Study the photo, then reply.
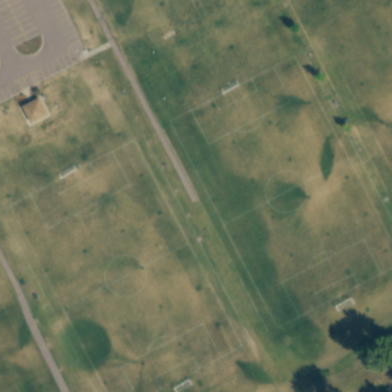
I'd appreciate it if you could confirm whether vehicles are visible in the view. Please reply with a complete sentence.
No, the frame has no vehicle in it.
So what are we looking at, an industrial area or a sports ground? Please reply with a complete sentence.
The picture captures a sports ground.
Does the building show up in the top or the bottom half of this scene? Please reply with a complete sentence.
You can find the building in the top half.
